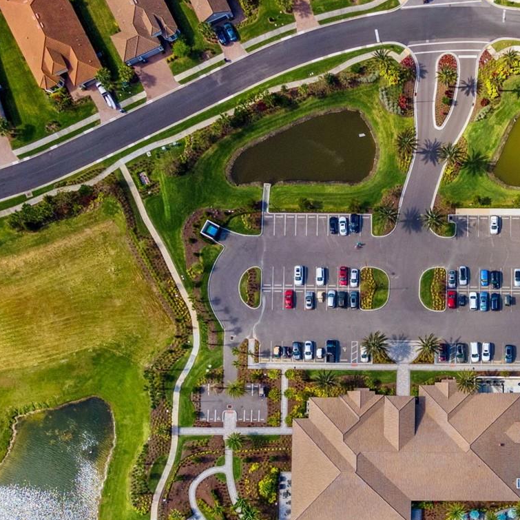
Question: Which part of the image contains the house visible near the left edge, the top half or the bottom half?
top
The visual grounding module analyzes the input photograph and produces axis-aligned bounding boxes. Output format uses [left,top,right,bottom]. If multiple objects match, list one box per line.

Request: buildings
[184,0,228,32]
[107,0,180,71]
[0,0,103,94]
[292,380,520,520]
